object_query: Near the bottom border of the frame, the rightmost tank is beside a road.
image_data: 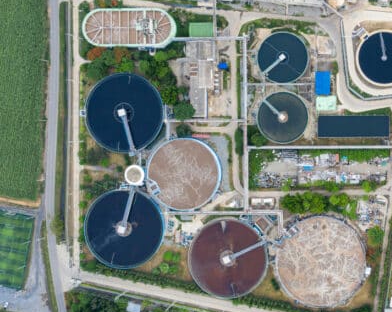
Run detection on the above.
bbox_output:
[276,215,367,307]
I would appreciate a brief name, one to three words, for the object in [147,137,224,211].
storage tank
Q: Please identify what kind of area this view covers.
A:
industrial area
